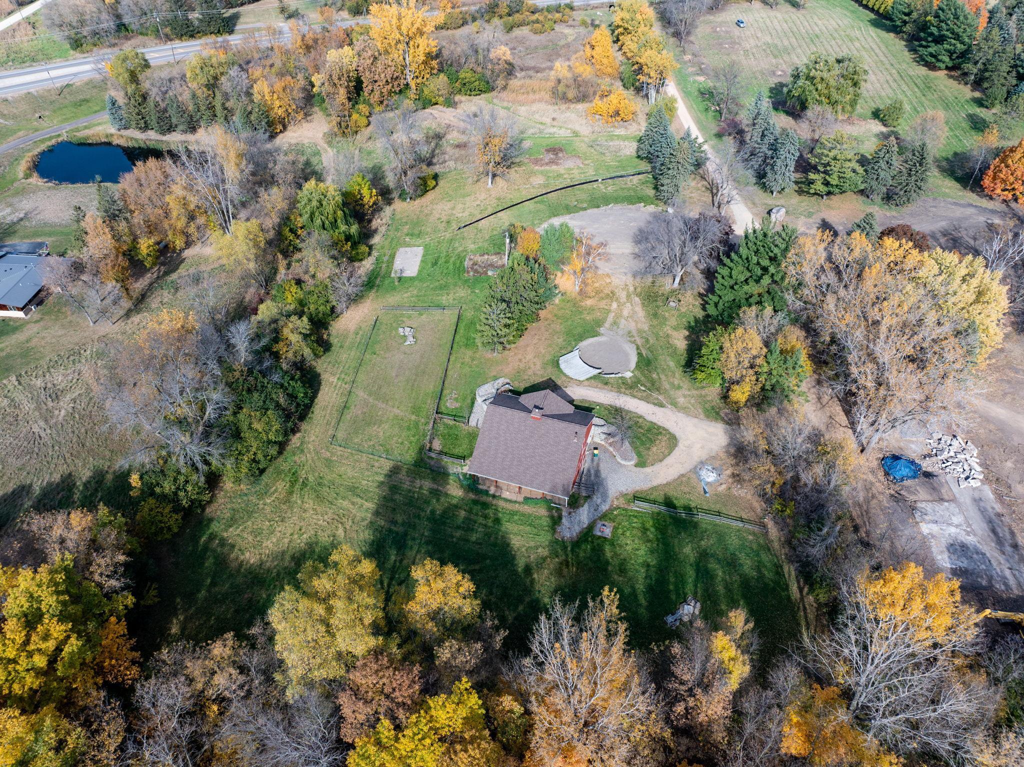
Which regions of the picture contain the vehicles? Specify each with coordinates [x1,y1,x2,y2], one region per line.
[734,18,747,27]
[958,609,1024,638]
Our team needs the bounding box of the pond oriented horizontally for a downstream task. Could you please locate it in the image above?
[36,144,207,186]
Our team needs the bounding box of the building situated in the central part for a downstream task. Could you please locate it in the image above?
[467,389,597,517]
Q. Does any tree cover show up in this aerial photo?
Yes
